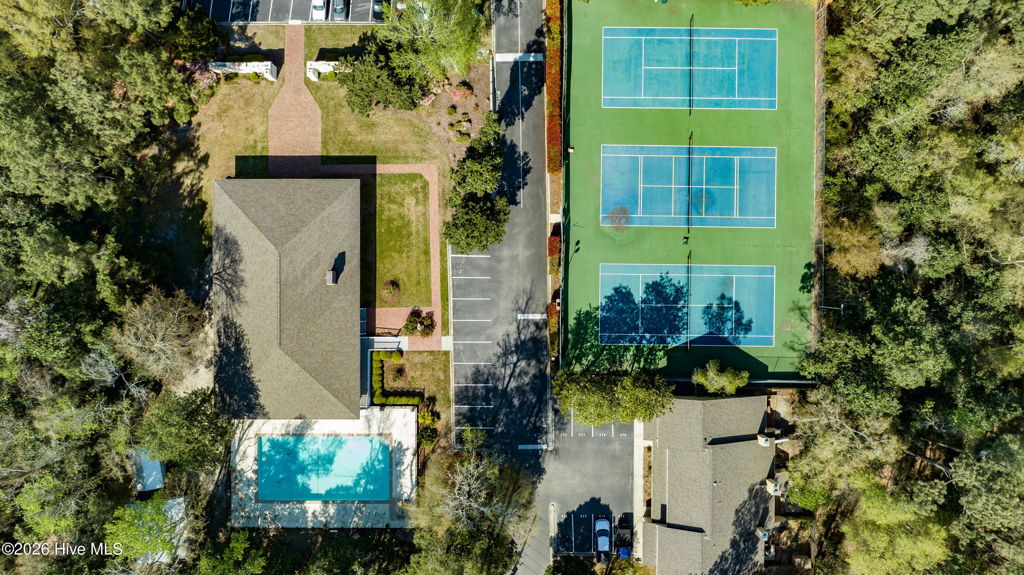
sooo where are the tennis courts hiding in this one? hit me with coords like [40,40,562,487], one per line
[599,257,775,353]
[602,17,778,116]
[600,137,777,234]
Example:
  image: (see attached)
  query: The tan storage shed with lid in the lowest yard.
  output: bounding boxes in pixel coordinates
[793,554,815,571]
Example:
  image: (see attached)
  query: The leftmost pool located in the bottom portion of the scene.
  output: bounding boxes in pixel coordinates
[255,433,393,504]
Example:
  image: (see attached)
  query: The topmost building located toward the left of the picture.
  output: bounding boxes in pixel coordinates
[212,178,408,419]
